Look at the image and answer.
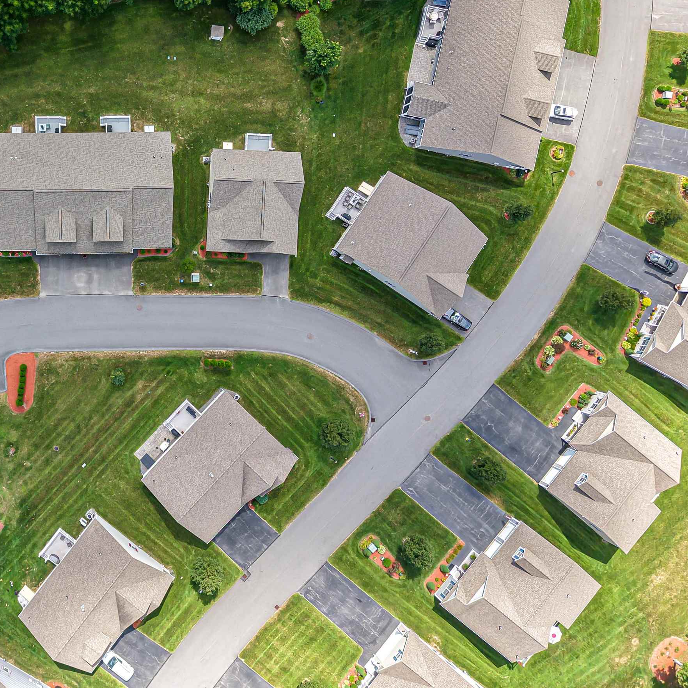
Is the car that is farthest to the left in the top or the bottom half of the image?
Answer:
bottom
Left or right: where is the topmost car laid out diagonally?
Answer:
right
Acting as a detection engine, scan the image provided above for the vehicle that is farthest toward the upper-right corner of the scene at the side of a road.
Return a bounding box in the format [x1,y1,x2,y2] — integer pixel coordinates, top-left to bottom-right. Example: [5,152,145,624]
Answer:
[550,103,580,122]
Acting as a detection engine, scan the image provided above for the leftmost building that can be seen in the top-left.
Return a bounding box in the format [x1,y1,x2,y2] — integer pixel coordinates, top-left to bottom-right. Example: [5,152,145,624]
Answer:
[0,116,173,256]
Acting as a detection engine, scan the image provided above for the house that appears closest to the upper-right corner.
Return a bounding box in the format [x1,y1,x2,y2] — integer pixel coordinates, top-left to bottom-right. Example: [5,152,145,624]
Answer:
[400,0,570,171]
